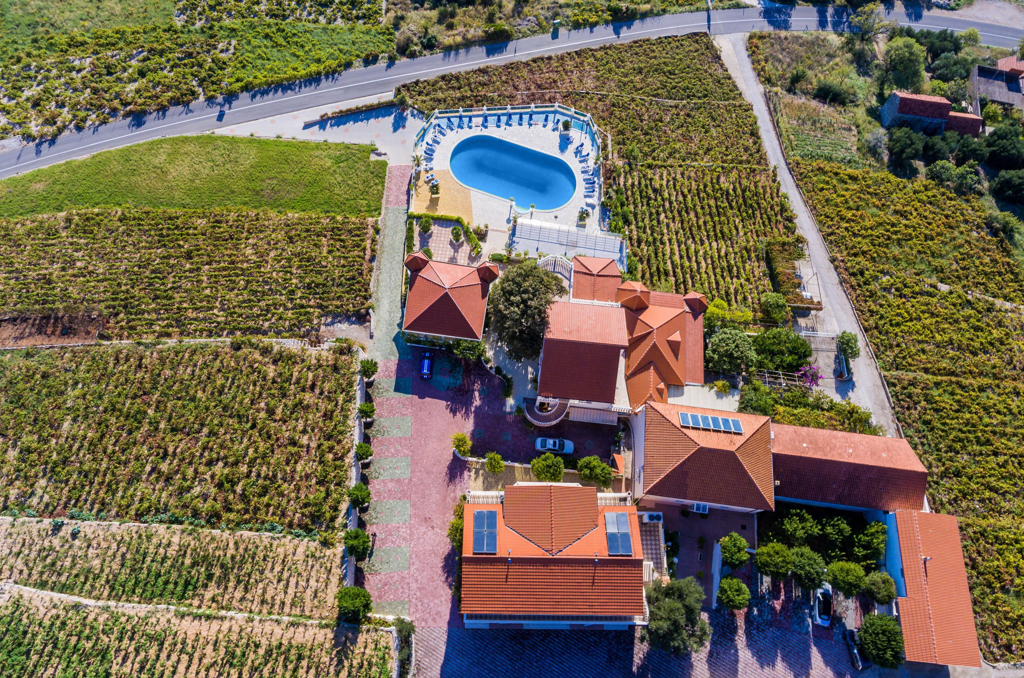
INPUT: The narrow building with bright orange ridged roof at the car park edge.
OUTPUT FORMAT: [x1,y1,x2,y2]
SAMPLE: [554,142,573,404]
[884,510,982,667]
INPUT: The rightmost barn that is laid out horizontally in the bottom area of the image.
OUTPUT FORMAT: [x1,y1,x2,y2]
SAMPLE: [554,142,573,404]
[771,423,928,510]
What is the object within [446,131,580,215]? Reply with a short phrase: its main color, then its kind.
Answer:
blue swimming pool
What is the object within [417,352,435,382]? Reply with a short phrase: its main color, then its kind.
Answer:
blue car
